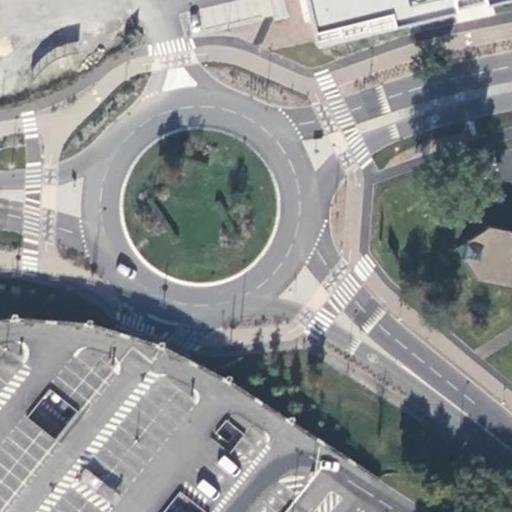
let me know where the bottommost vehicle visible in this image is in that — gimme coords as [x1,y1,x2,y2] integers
[196,480,219,499]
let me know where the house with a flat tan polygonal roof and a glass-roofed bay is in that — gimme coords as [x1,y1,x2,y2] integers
[453,228,512,288]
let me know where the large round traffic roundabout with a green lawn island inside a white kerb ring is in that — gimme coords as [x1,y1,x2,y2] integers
[80,86,321,328]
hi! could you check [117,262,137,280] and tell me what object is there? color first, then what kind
white car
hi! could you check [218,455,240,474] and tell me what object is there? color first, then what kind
white vehicle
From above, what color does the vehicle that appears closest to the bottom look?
white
